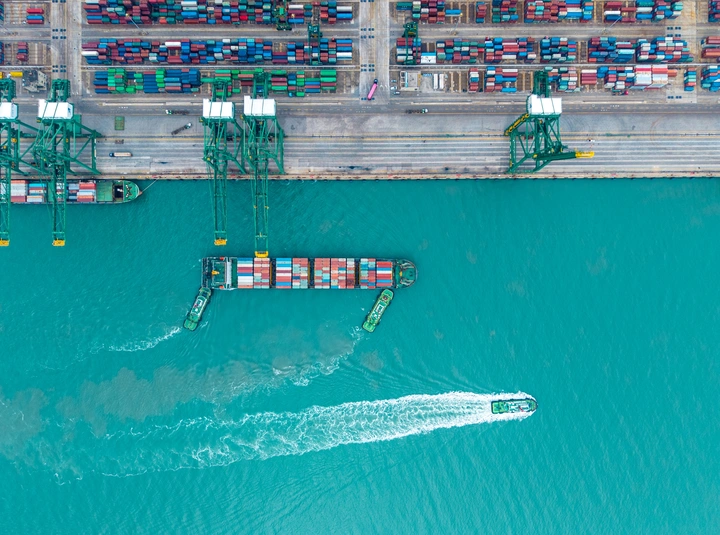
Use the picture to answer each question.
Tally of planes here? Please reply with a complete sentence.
No planes are visible.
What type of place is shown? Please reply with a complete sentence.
It's a port.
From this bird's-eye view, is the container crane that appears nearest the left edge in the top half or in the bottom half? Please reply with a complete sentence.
It is in the top half that the container crane that appears nearest the left edge appears.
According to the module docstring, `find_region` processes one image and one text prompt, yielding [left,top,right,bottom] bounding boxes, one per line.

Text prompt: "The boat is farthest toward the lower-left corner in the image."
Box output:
[184,288,212,331]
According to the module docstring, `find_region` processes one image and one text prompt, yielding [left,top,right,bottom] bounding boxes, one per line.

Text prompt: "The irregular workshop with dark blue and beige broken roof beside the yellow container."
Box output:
[20,68,46,92]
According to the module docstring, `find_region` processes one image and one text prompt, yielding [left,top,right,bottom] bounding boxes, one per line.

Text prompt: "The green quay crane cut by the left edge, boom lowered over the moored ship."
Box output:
[0,72,55,248]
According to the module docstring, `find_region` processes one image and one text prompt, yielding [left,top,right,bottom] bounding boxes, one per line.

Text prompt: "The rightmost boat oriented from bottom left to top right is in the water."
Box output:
[364,290,394,331]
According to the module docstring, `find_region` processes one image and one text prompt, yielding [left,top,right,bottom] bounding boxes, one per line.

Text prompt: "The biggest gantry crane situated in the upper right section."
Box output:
[503,70,593,174]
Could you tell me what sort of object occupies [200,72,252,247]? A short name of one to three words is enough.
container crane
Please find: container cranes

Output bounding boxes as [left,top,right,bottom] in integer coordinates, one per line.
[273,0,292,31]
[242,70,288,259]
[0,72,55,248]
[306,22,323,66]
[30,72,105,248]
[503,70,593,174]
[400,22,418,66]
[200,72,252,247]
